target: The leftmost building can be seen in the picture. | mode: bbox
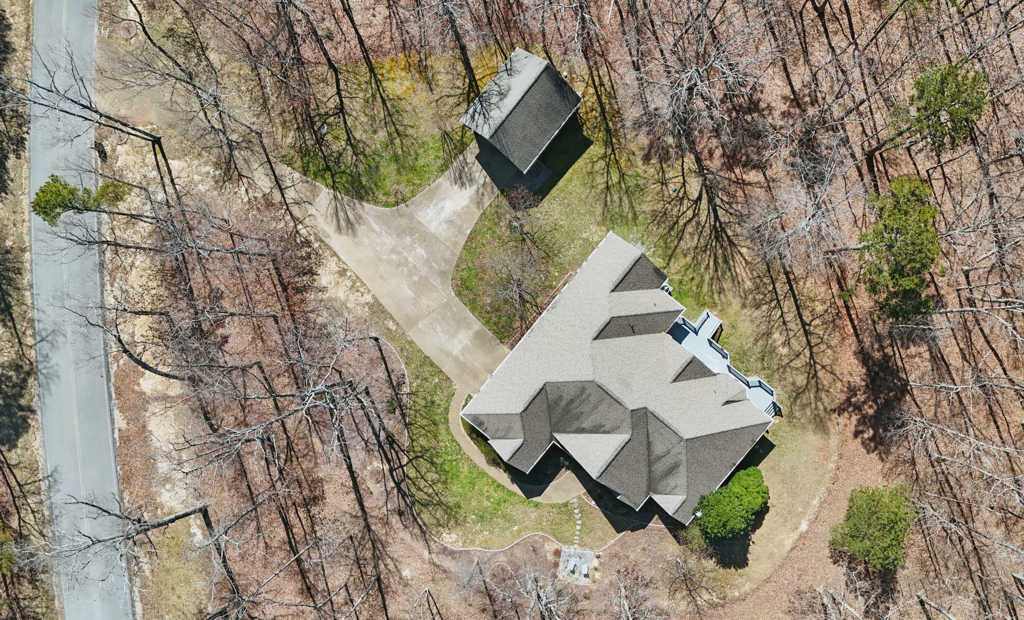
[459,47,583,173]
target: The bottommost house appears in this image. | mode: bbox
[461,230,773,529]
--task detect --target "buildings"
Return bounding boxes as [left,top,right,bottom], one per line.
[461,230,773,529]
[459,47,583,173]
